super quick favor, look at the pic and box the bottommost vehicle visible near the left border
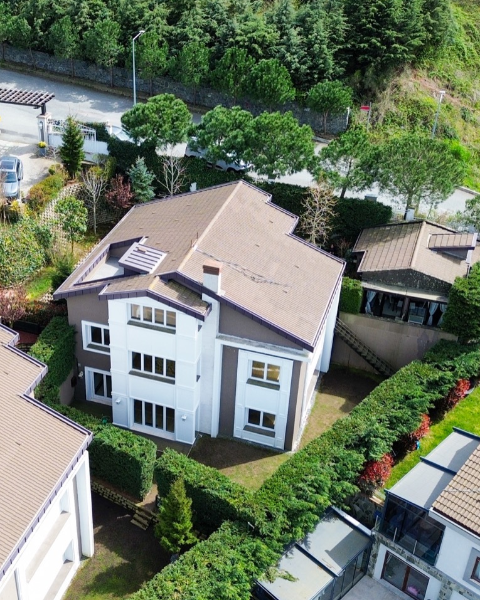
[0,157,25,196]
